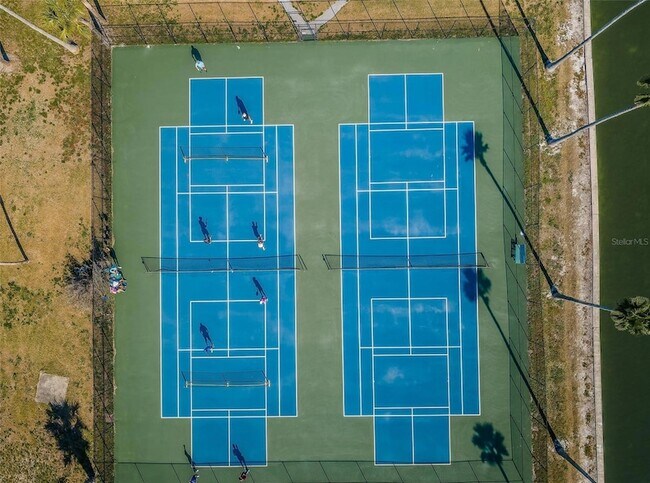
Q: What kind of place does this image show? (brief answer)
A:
sports ground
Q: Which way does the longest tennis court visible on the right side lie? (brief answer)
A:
up and down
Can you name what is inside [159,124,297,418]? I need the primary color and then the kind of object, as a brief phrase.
blue tennis court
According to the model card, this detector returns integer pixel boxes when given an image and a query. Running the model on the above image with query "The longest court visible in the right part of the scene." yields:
[339,121,481,416]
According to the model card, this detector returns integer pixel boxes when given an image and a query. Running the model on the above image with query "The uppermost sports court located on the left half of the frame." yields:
[189,77,265,242]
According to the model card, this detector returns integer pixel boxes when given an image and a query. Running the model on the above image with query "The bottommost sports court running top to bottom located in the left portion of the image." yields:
[190,300,268,467]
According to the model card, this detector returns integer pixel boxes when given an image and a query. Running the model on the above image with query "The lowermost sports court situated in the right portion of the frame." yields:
[372,298,451,466]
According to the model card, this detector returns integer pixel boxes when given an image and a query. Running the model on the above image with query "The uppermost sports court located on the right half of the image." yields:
[368,74,447,239]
